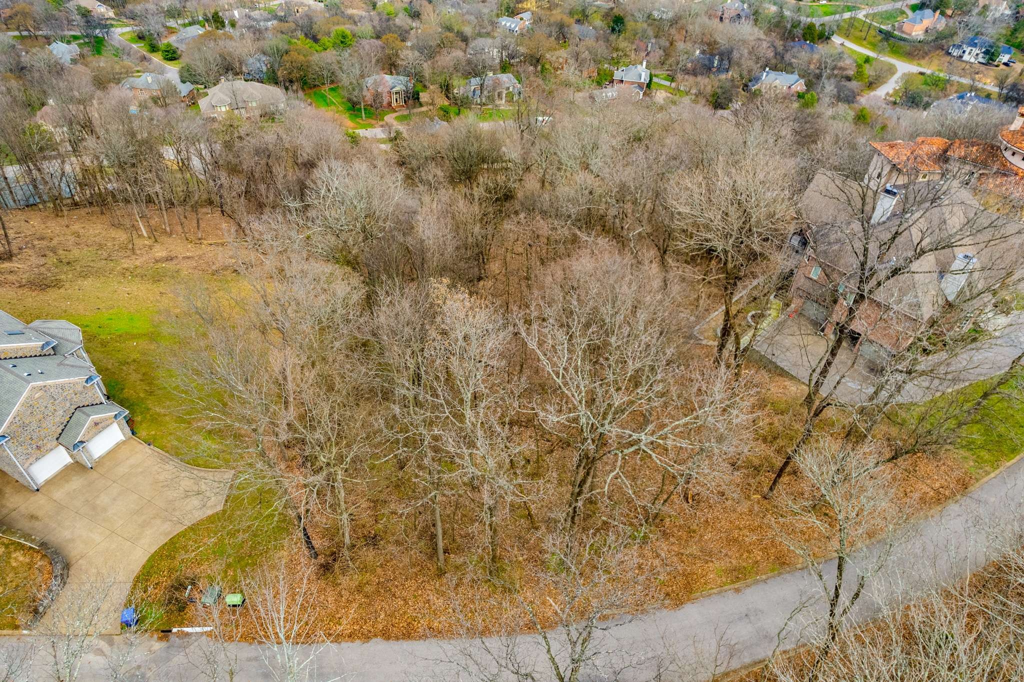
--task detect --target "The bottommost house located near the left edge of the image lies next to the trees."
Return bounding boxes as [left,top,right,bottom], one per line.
[0,300,141,491]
